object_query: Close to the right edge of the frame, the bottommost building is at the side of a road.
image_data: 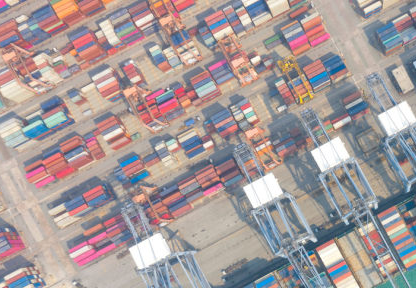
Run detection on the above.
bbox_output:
[392,66,414,94]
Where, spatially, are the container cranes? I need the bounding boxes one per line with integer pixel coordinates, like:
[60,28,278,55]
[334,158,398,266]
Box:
[363,68,416,196]
[231,140,328,288]
[216,33,256,85]
[123,85,168,134]
[156,11,194,65]
[1,46,54,97]
[297,104,412,288]
[245,131,283,176]
[277,54,314,105]
[119,202,215,288]
[128,185,174,229]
